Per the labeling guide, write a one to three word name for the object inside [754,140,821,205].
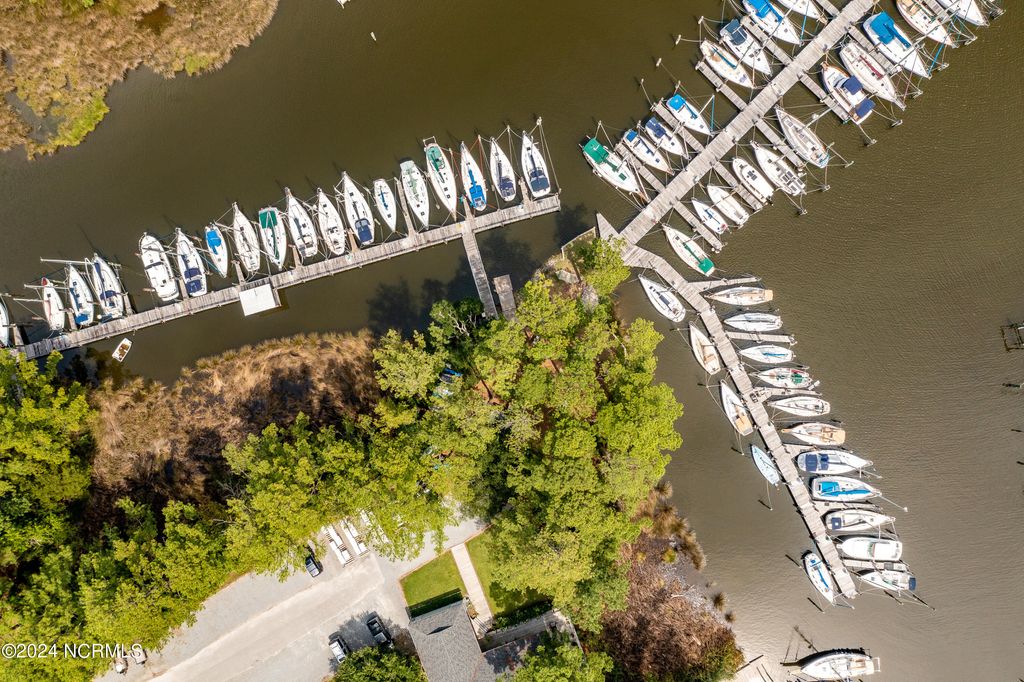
boat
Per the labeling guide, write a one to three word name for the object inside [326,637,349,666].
truck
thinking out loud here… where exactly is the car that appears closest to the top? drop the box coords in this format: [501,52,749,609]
[305,551,324,578]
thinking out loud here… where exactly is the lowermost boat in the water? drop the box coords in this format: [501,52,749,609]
[792,653,889,682]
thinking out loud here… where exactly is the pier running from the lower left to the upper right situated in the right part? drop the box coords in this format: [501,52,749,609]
[590,0,1002,261]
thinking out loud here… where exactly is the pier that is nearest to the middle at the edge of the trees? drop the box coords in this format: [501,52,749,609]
[492,273,516,321]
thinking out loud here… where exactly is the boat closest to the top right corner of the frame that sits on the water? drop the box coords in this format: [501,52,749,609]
[939,0,1004,37]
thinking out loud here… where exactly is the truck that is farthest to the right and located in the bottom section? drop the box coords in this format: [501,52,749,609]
[364,614,393,646]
